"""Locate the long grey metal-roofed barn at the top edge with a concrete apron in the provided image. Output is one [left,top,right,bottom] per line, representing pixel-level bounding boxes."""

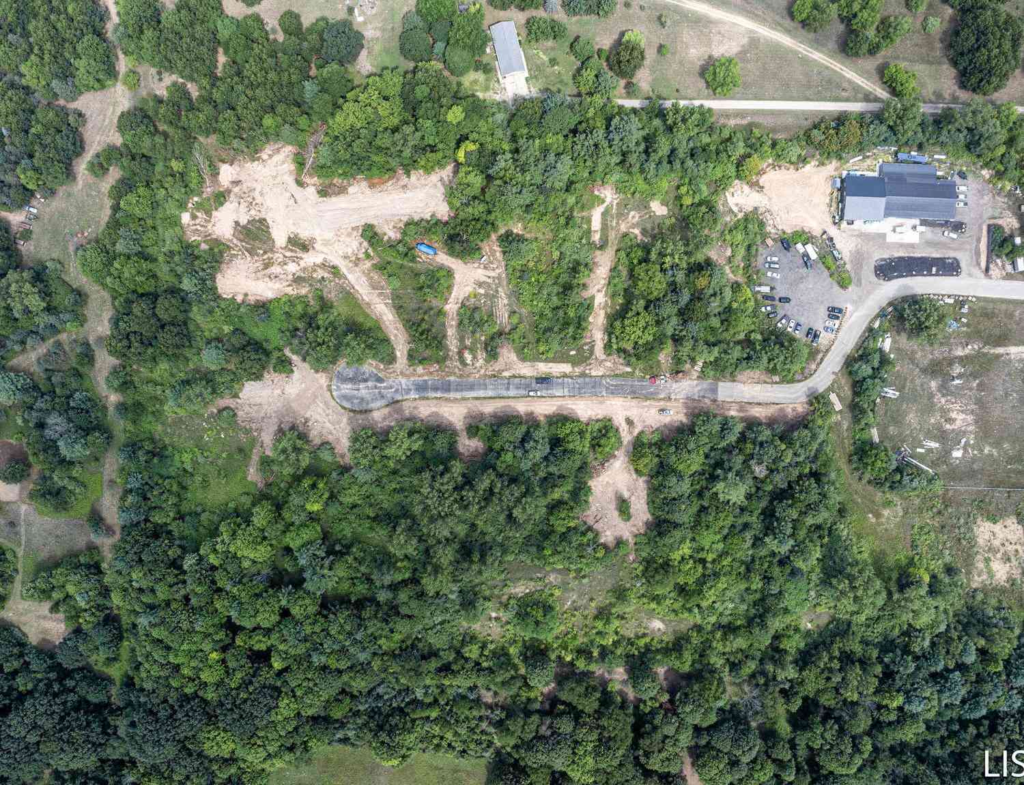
[490,18,528,81]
